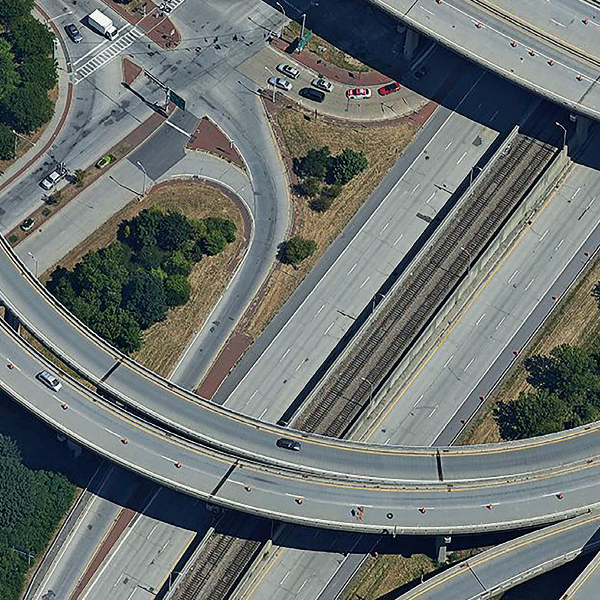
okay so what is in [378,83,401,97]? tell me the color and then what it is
red car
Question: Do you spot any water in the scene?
No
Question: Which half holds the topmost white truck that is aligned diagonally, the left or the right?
left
